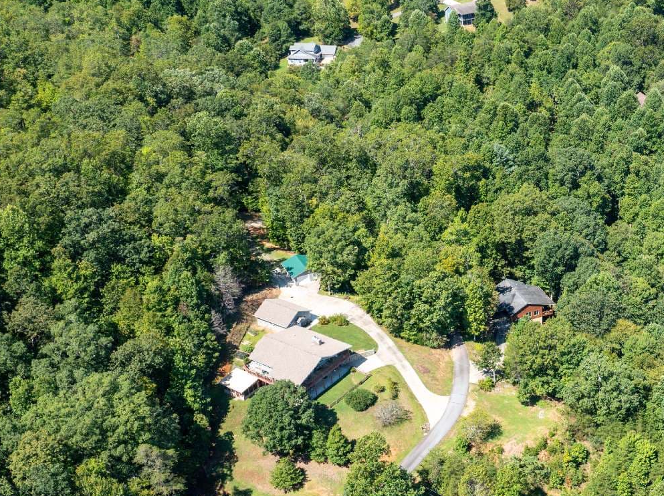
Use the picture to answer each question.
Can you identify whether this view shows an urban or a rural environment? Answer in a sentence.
The land in this view is best described as rural.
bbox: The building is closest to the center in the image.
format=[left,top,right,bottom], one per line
[281,254,321,289]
